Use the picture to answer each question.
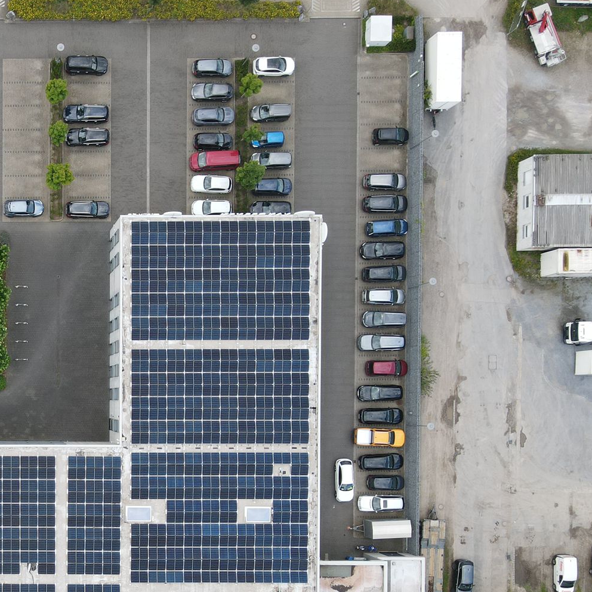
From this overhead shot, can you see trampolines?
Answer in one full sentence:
No, no trampoline is visible in the scene.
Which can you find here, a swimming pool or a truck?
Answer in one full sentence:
Looking from above, you can make out a truck.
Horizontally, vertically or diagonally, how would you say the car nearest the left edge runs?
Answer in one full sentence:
In this picture, the car nearest the left edge lies horizontally.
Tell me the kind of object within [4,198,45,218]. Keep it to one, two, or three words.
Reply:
car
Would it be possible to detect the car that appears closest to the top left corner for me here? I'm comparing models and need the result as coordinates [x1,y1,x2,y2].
[64,53,109,78]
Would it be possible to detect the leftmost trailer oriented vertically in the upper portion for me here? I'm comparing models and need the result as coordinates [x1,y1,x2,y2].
[423,31,463,130]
